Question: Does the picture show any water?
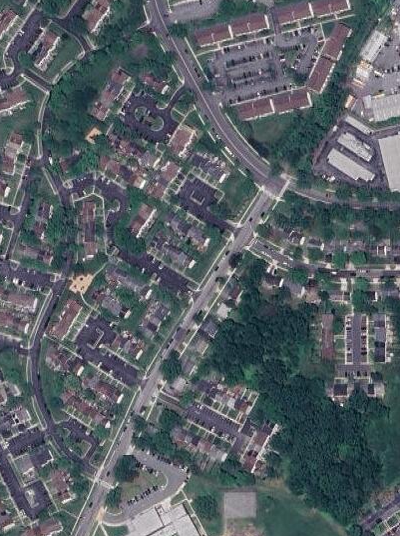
No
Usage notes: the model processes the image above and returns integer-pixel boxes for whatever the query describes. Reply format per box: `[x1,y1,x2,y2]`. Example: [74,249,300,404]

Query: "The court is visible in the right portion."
[225,492,256,518]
